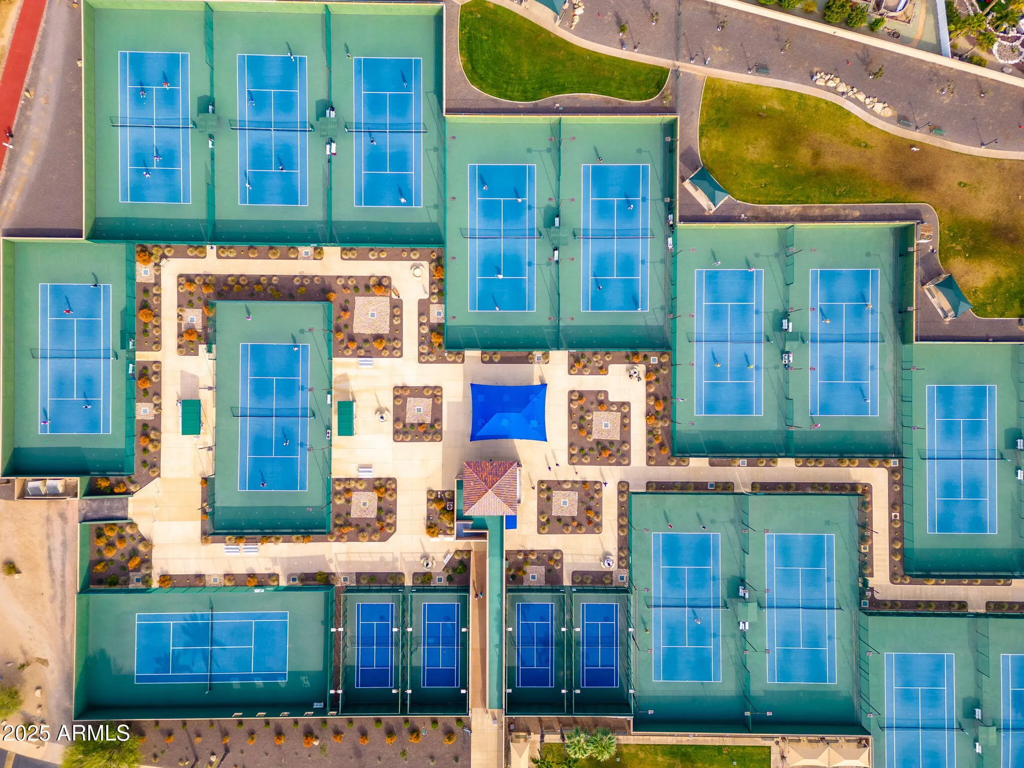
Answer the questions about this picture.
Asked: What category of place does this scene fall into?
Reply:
sports ground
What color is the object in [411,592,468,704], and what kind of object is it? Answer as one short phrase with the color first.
blue tennis court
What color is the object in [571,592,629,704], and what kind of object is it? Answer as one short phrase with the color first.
blue tennis court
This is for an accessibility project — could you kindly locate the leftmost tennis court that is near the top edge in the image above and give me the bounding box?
[94,9,214,245]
